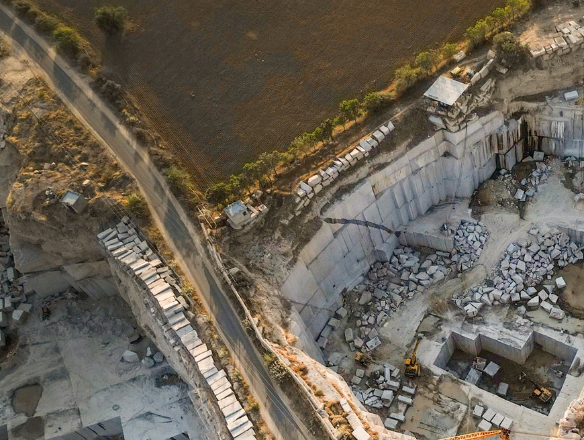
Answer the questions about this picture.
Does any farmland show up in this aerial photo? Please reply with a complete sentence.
Yes, the picture does contain farmland.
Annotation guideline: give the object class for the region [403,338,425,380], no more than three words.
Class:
work vehicle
